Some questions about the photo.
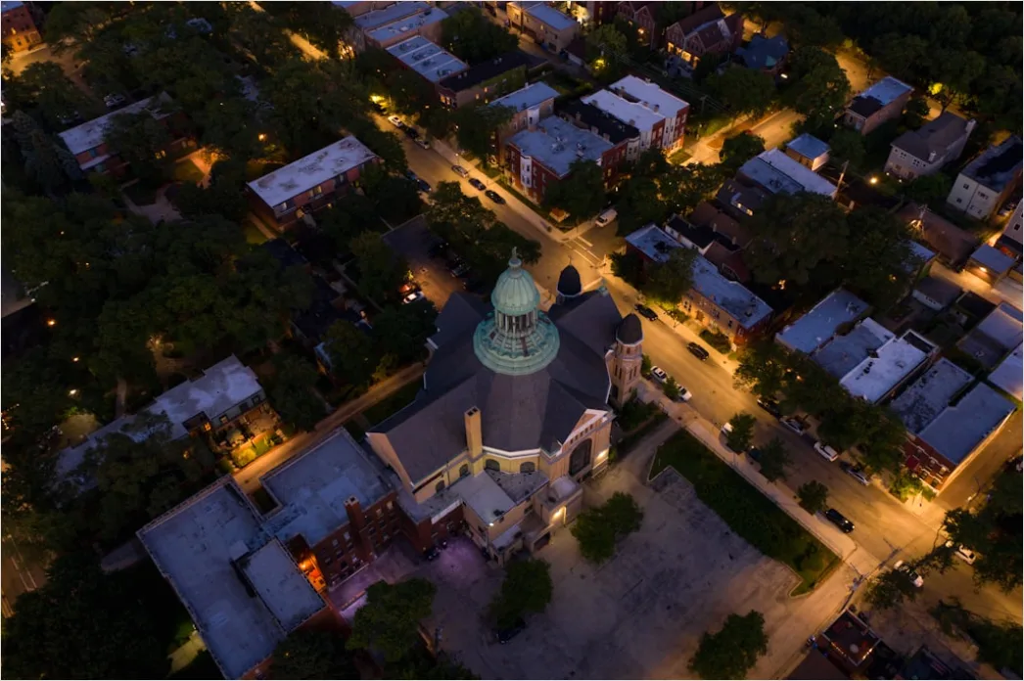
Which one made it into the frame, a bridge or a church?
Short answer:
church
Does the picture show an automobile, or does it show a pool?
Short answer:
automobile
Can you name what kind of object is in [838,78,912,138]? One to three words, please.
house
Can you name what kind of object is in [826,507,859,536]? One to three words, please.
car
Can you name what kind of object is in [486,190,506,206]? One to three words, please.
car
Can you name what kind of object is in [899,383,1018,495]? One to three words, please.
building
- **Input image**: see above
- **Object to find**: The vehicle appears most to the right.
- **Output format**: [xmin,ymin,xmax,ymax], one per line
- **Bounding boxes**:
[996,207,1014,222]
